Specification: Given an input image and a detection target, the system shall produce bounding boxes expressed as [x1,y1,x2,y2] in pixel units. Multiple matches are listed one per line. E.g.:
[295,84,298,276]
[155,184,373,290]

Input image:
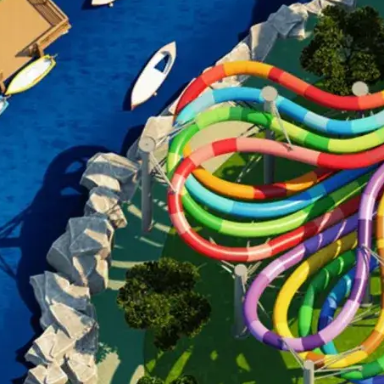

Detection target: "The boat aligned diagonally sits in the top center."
[130,38,176,107]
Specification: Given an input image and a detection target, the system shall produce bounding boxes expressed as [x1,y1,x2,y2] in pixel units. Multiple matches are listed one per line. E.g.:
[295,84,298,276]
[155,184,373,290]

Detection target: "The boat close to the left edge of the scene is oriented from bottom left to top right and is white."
[4,51,57,92]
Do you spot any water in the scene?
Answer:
Yes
